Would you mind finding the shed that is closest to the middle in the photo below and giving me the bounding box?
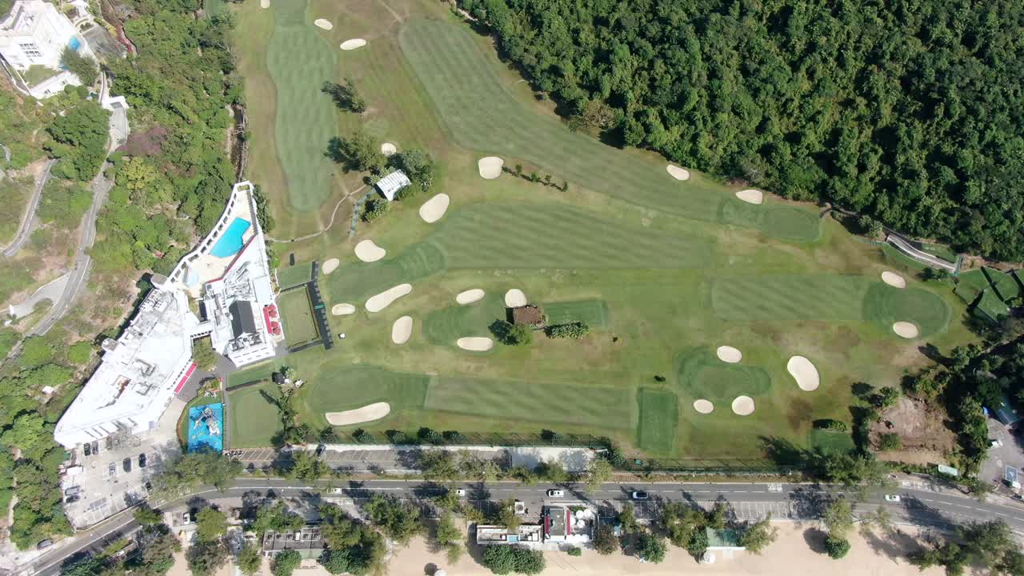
[513,307,544,326]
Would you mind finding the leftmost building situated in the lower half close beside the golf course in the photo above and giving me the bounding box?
[54,283,200,449]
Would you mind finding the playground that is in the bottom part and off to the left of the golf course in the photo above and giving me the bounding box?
[189,402,223,453]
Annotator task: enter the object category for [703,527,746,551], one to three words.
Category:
building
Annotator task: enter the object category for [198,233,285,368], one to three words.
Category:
building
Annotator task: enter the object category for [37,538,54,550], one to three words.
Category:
vehicle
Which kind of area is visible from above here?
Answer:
golf course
